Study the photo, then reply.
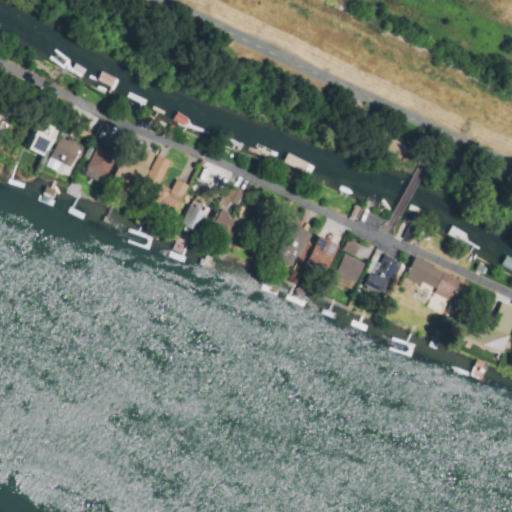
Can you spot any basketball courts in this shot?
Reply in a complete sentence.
No, I can't see a single basketball court in this photo.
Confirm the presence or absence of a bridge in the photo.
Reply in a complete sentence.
Yes, the image includes a bridge.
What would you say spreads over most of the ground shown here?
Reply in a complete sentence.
The largest share of the image is taken up by water.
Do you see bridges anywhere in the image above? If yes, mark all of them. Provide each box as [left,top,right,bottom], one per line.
[380,162,425,235]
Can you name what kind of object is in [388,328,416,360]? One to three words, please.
pier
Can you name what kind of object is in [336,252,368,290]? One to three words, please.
house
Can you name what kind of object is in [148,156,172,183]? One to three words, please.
house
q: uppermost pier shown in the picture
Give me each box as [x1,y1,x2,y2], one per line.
[50,48,83,79]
